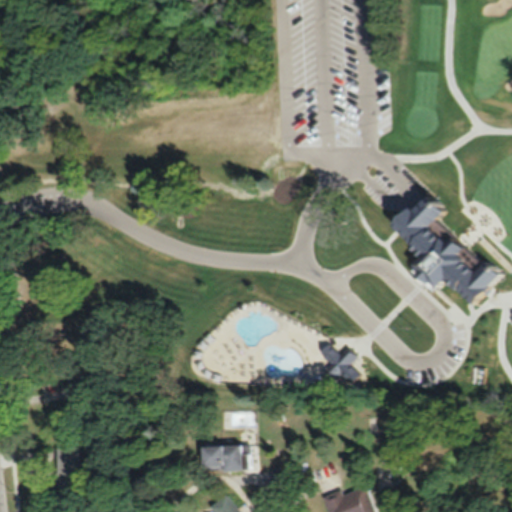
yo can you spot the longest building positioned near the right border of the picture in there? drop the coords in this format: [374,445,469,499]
[387,198,505,304]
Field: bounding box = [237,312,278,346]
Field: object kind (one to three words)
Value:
swimming pool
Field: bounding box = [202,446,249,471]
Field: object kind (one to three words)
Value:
house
